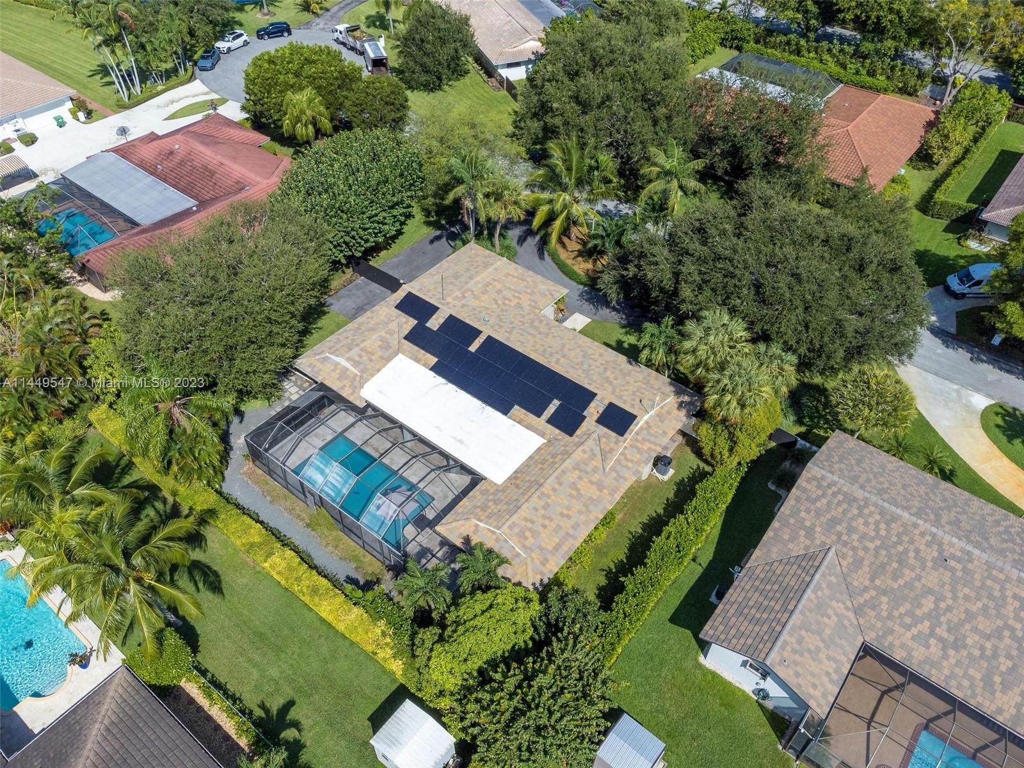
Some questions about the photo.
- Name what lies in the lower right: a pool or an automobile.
pool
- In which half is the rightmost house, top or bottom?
top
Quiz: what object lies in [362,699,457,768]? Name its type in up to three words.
shed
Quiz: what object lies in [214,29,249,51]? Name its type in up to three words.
car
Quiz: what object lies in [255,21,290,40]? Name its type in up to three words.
car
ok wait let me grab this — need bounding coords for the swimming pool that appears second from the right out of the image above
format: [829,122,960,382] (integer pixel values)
[291,432,436,556]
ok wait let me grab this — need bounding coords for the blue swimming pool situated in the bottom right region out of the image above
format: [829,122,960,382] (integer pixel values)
[895,724,994,768]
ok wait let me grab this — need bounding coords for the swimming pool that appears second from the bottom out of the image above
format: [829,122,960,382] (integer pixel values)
[0,549,94,703]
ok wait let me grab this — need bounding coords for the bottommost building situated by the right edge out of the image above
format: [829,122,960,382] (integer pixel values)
[699,428,1024,738]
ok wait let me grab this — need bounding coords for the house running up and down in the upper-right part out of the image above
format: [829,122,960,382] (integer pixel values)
[979,152,1024,252]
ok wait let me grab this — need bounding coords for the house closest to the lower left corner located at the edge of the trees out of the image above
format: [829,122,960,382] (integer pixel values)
[0,662,225,768]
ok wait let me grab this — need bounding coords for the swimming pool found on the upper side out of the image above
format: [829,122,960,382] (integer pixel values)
[45,205,120,252]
